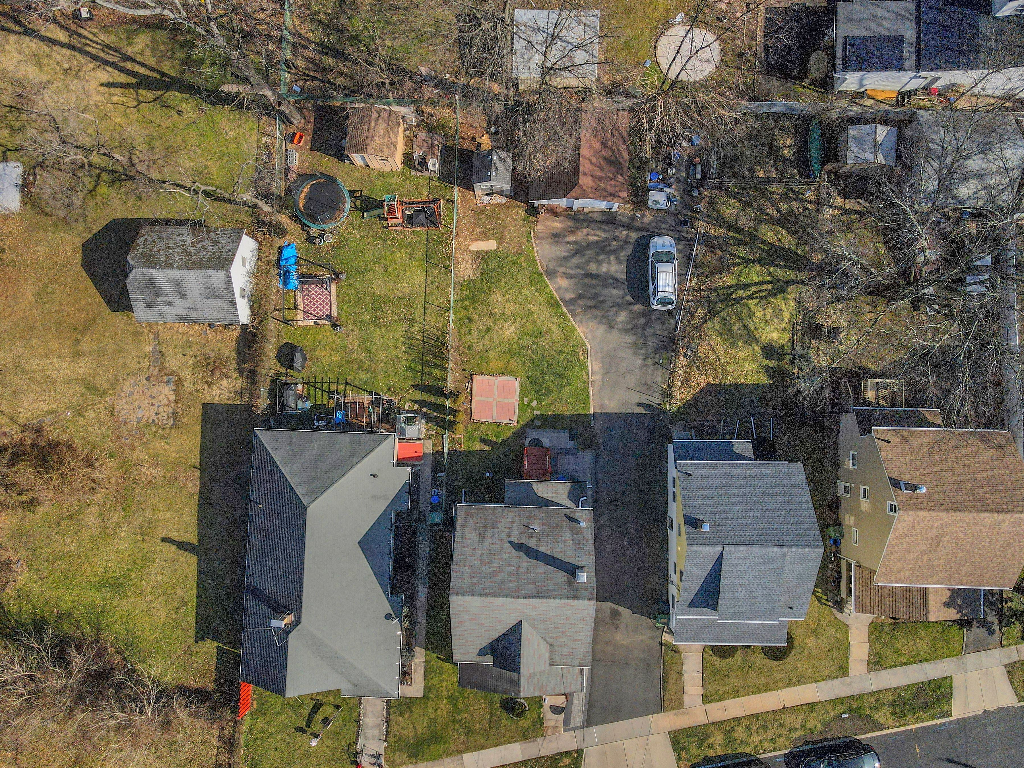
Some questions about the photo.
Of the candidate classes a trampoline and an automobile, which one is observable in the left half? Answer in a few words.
trampoline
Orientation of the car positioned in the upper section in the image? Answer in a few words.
from top to bottom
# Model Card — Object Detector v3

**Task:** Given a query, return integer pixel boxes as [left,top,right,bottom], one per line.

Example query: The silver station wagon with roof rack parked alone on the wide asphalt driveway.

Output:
[650,235,679,308]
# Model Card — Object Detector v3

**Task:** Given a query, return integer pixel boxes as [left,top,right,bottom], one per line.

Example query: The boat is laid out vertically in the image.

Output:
[810,118,824,179]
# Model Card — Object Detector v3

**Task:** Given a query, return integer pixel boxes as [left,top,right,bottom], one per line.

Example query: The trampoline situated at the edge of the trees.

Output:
[293,175,351,236]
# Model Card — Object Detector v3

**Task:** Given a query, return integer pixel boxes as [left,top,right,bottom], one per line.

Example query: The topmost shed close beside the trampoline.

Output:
[344,105,405,170]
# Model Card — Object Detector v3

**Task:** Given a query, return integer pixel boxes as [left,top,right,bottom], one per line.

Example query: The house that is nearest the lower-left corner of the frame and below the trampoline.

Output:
[239,428,414,700]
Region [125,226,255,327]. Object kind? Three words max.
building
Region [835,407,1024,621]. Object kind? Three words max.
house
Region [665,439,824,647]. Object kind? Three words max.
house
